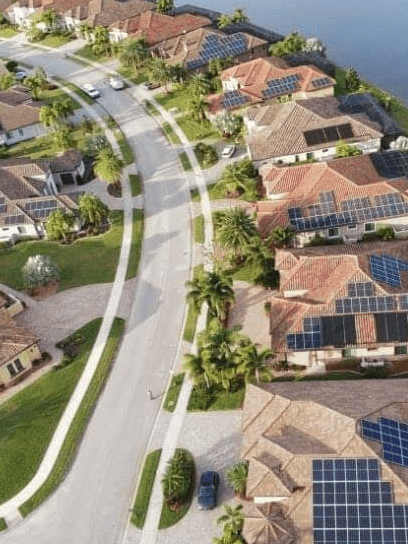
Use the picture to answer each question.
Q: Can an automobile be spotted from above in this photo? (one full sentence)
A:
Yes, an automobile can be made out from above.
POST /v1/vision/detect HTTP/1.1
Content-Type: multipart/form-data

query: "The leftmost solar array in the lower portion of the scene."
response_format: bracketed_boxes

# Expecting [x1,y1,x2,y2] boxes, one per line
[289,316,321,350]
